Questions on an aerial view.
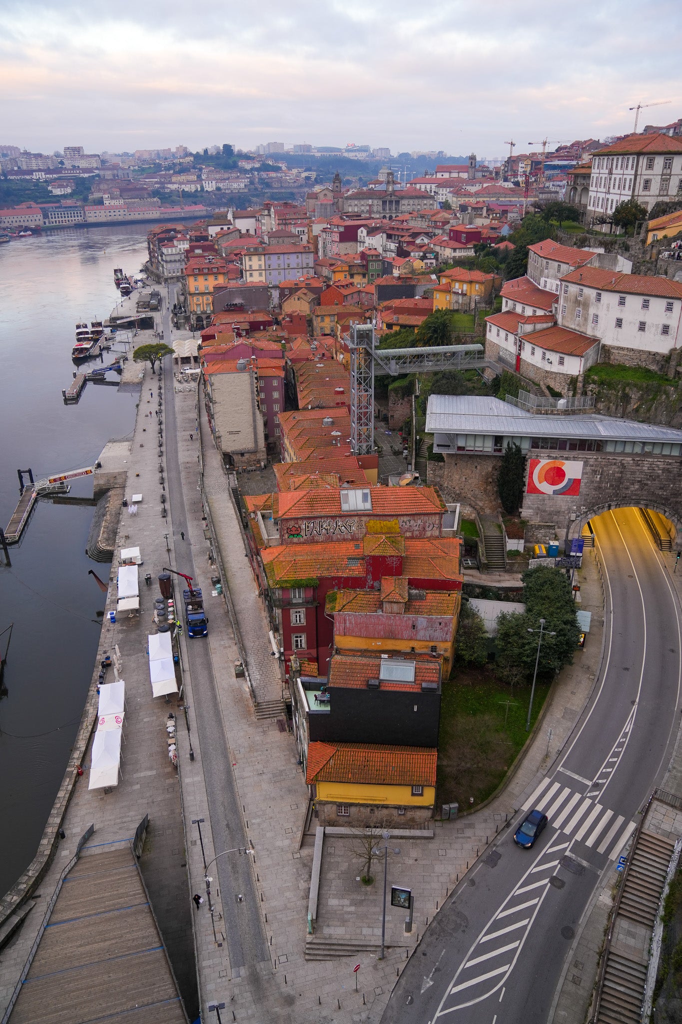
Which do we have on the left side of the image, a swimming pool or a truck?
truck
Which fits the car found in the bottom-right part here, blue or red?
blue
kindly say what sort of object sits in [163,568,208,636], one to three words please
truck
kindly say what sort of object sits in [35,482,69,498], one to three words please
pier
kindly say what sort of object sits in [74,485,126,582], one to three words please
pier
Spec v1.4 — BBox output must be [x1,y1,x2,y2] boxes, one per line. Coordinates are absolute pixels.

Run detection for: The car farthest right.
[515,805,547,846]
